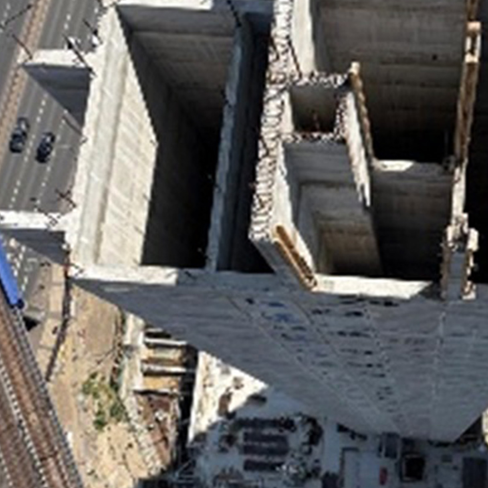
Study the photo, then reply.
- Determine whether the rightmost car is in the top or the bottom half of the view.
top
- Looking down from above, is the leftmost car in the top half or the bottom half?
top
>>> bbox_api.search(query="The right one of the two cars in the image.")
[32,128,55,163]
